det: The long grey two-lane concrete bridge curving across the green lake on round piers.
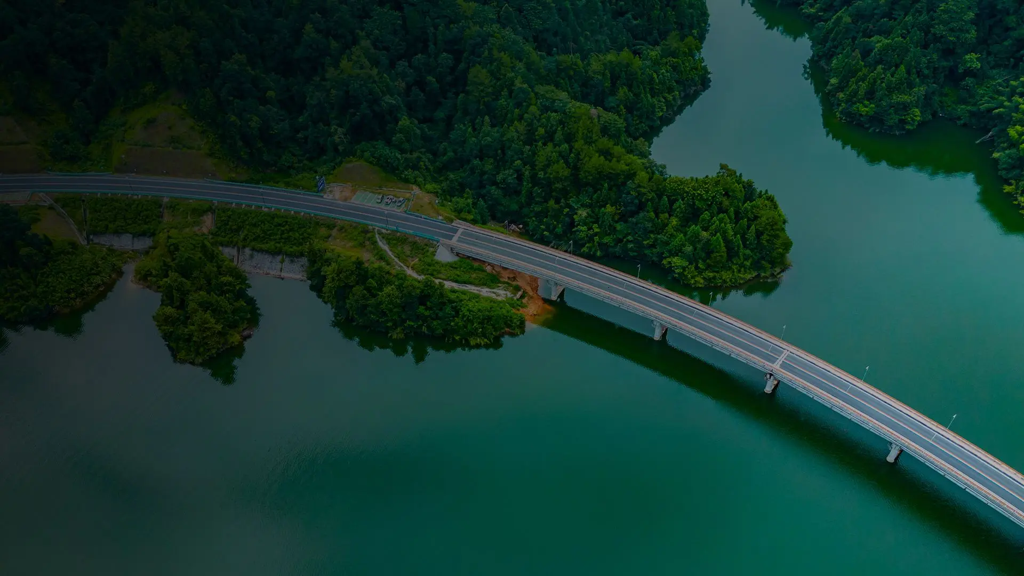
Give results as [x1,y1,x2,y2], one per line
[425,218,1024,524]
